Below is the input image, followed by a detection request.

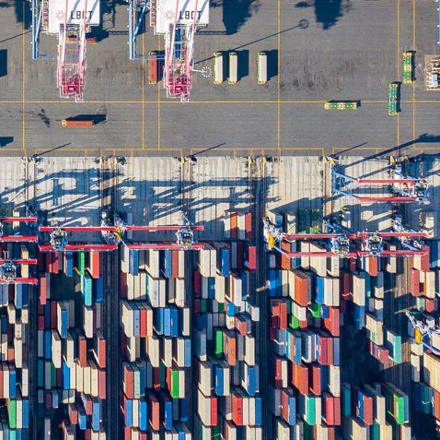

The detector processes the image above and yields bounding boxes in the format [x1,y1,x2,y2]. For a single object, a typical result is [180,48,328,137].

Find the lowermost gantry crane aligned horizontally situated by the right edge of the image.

[329,214,424,258]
